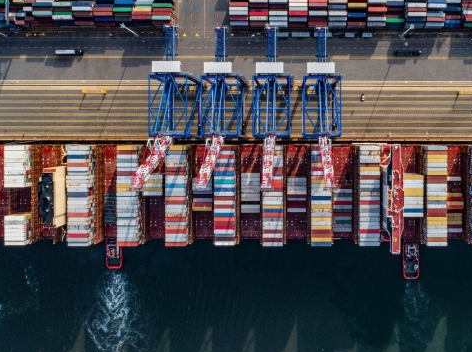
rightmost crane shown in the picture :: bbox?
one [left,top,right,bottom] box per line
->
[298,20,343,191]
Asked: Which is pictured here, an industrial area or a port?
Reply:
port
